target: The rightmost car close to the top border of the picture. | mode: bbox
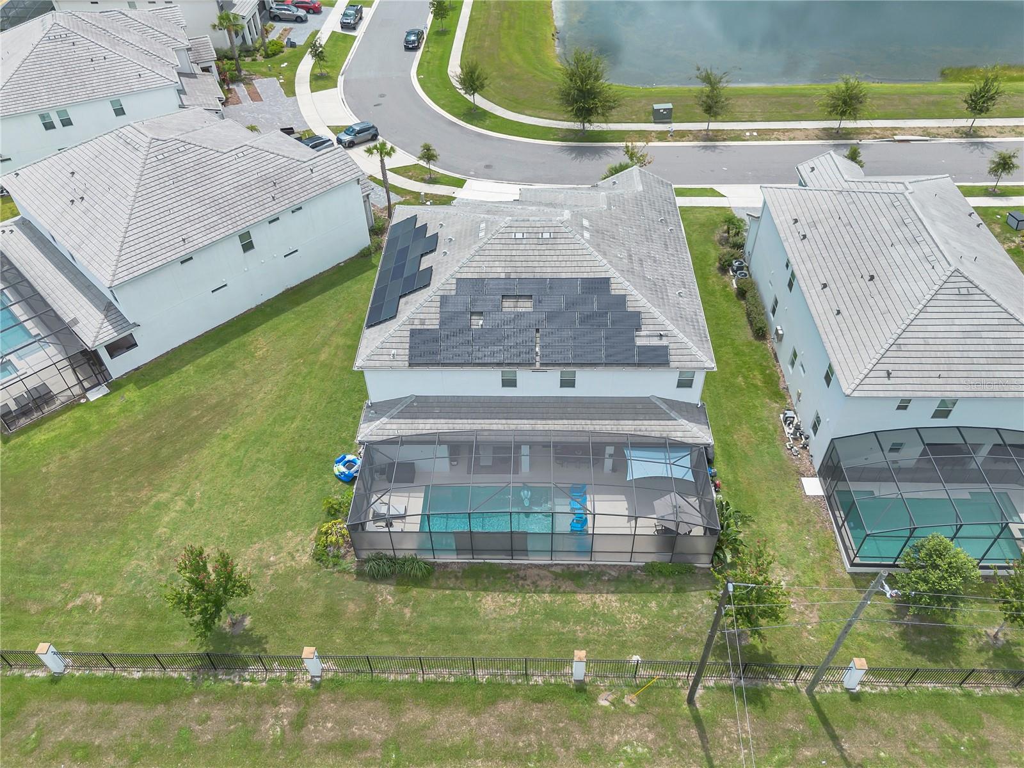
[402,21,423,46]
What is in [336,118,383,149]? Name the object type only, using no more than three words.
car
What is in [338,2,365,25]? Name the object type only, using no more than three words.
truck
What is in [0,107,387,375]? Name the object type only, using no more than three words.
house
